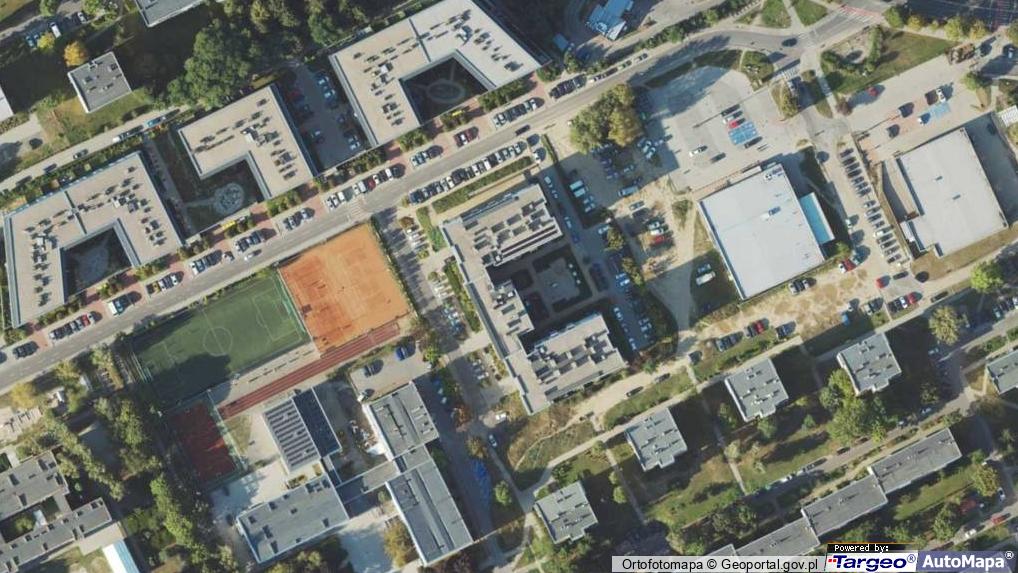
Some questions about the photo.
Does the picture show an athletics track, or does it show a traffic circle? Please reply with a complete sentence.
Looking from above, you can make out an athletics track.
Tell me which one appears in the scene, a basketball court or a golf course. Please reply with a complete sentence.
There is a basketball court in the scene.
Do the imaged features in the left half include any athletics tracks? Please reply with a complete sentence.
Yes, I can see an athletics track in the left half.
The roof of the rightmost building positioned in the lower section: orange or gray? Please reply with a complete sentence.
The roof of the rightmost building positioned in the lower section looks gray in the image.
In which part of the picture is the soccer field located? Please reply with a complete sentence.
Look in the left portion of the view to spot the soccer field.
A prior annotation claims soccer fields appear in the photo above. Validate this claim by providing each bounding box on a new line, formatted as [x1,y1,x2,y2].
[132,270,312,409]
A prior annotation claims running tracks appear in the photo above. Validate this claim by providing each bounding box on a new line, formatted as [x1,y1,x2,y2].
[219,317,413,419]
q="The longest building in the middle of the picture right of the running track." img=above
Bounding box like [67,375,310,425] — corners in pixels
[435,183,629,415]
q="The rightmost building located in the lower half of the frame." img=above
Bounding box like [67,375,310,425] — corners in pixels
[981,346,1018,407]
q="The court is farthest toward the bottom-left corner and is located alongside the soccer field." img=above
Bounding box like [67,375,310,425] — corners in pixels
[160,391,250,494]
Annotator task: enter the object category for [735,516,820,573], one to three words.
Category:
building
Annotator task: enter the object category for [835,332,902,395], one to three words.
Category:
building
